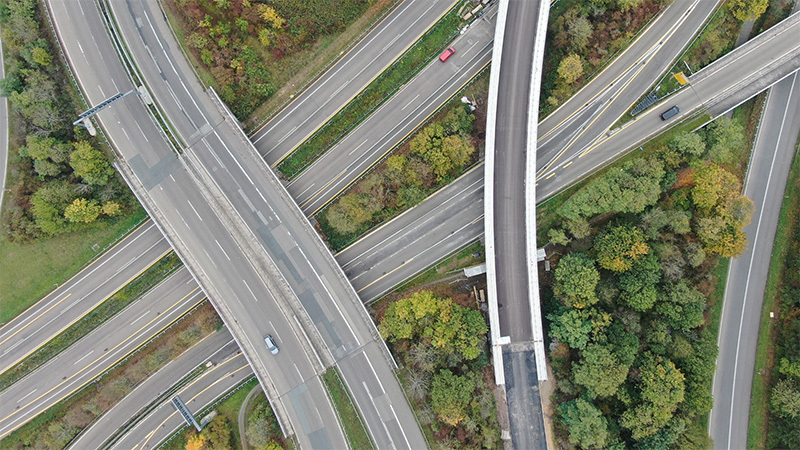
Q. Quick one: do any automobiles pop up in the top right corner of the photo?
Yes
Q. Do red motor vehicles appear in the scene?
Yes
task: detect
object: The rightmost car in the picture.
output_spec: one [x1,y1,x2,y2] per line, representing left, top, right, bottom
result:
[662,104,682,120]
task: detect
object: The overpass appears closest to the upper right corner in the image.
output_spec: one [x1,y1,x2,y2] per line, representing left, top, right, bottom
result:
[687,11,800,130]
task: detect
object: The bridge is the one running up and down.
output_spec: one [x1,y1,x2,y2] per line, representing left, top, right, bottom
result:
[484,0,550,385]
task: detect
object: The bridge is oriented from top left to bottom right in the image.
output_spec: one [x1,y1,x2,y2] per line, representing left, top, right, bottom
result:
[113,86,398,438]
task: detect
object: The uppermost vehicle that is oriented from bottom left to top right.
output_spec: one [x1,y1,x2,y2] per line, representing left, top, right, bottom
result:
[439,46,456,62]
